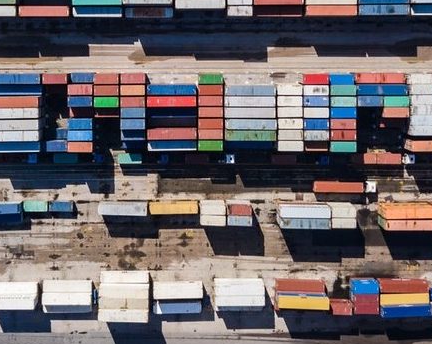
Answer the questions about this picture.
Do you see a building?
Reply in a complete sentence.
No, no building is visible in the scene.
